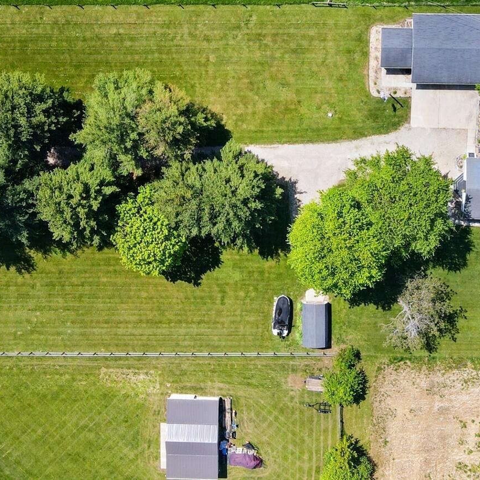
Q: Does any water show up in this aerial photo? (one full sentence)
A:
No, there's no water in this view.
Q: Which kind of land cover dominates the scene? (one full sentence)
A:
The bulk of the photo consists of grass.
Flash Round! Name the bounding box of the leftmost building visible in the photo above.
[164,393,220,480]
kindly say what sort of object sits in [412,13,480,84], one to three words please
building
